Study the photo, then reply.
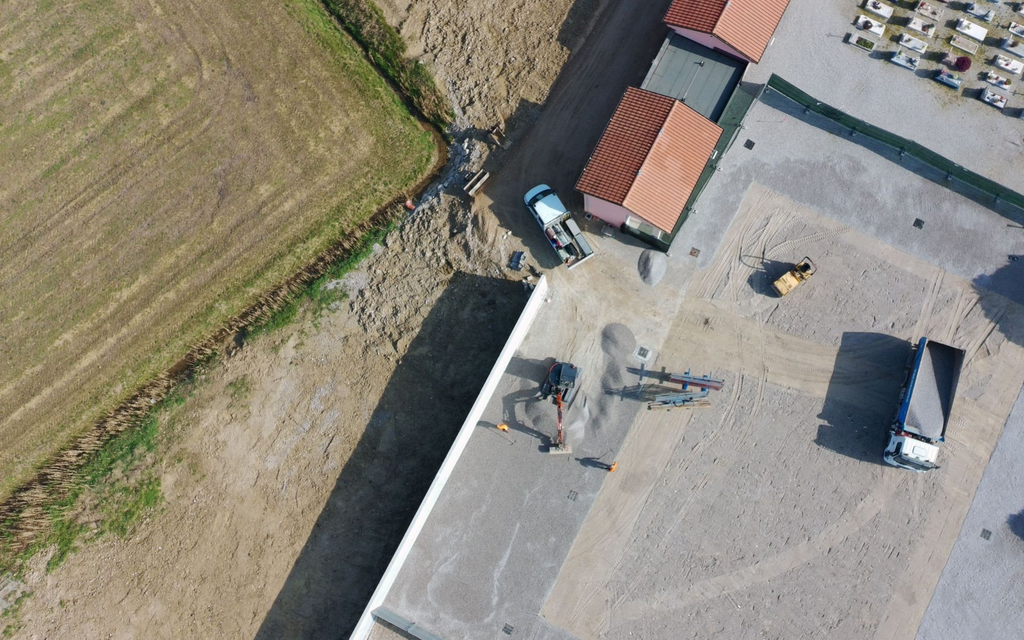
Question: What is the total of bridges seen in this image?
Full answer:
There are no bridges in this view.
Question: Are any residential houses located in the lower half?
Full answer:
No, looking in the lower half, there is no residential house.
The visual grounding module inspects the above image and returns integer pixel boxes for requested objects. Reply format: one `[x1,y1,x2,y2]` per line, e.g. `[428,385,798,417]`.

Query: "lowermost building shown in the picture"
[574,85,725,251]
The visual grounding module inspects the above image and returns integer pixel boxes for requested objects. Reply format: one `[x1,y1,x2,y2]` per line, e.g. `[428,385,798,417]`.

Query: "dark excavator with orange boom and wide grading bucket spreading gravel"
[540,359,585,452]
